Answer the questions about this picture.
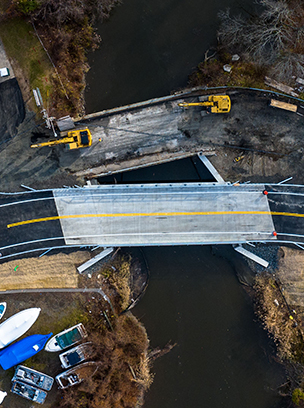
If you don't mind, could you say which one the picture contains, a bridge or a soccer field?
bridge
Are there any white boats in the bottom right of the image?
No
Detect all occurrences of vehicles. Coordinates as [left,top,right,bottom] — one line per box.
[33,130,93,149]
[179,95,231,113]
